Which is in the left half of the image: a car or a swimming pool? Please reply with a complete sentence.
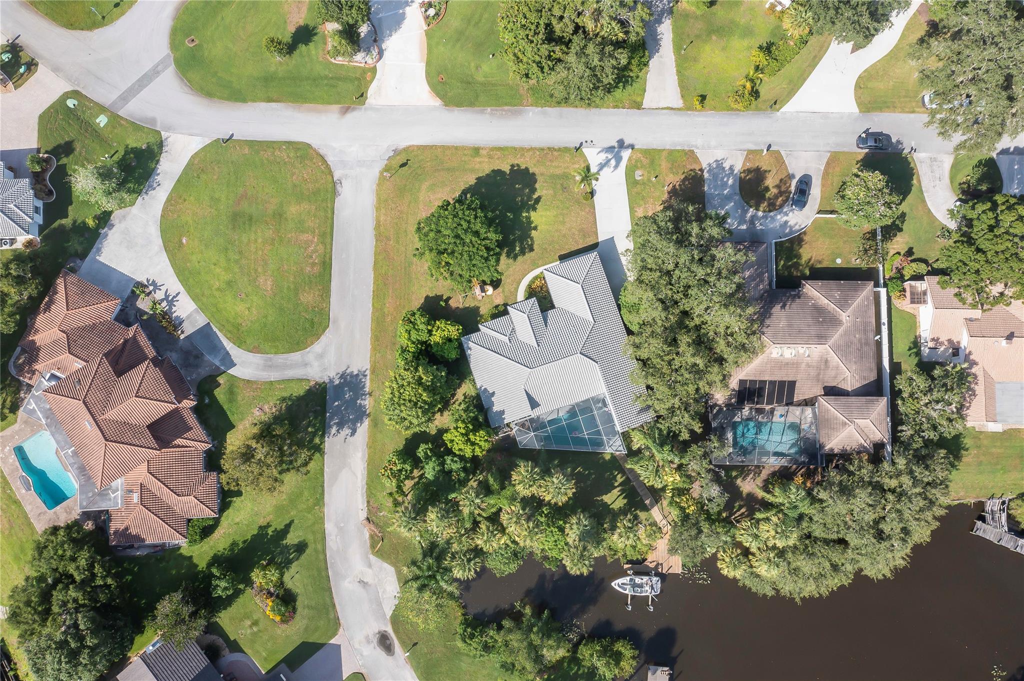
You can see a swimming pool in the left half of the image.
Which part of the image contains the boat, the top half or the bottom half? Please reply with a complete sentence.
Seen from above, the boat lies in the bottom half of the view.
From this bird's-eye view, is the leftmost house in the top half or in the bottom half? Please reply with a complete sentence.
It is in the top half that the leftmost house appears.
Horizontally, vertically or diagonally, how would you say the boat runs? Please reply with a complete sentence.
The boat is oriented horizontally.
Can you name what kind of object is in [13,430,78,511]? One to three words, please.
swimming pool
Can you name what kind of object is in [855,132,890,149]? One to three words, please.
car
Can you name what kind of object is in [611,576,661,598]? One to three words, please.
boat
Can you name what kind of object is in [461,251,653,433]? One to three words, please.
house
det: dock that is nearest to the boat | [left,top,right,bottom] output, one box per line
[623,526,682,575]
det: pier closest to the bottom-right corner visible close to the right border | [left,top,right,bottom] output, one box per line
[967,498,1024,555]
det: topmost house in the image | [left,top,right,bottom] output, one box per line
[0,160,45,236]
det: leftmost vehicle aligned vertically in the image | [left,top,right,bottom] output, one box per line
[791,174,811,211]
